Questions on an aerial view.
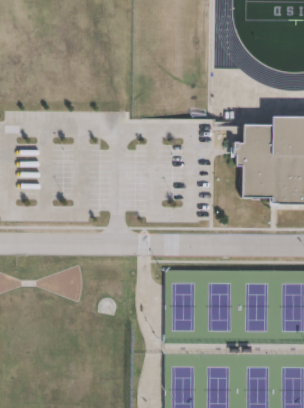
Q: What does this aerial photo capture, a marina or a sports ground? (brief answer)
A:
sports ground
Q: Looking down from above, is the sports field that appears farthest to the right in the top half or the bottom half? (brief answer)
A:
top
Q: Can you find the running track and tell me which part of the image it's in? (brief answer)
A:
top right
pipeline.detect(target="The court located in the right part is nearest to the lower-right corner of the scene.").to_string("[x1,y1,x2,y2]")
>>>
[282,367,304,408]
